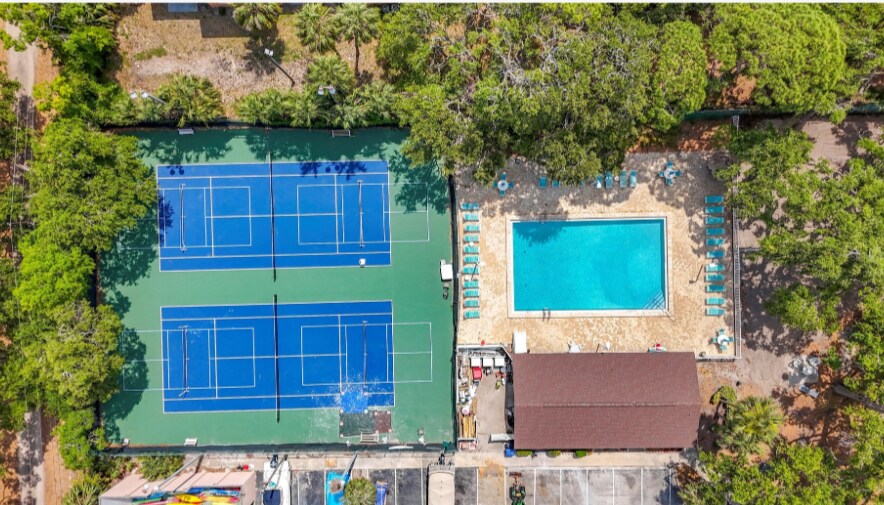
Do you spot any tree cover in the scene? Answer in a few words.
Yes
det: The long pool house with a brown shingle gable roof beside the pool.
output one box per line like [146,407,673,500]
[513,351,704,451]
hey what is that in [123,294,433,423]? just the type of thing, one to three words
tennis court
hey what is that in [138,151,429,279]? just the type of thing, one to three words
tennis court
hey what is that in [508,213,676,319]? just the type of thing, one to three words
swimming pool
